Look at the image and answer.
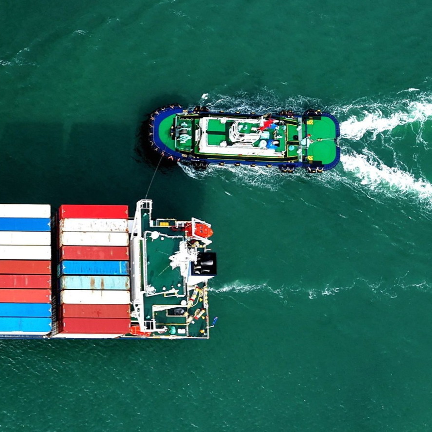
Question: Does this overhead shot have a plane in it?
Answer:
No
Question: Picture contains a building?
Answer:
No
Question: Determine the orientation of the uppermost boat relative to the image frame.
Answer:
from left to right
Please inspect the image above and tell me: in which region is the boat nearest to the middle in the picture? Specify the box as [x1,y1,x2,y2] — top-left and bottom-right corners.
[186,222,213,239]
